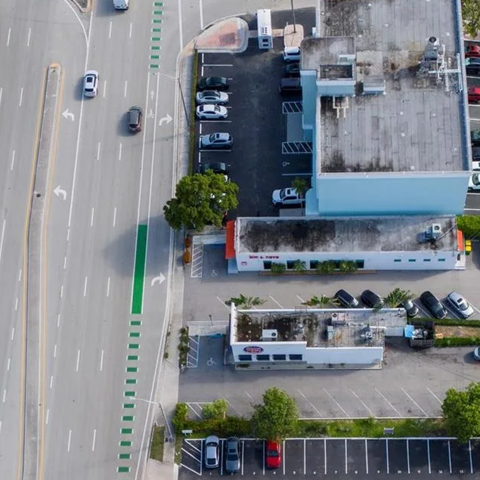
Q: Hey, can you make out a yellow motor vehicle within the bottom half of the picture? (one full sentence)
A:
No, no yellow motor vehicle appears within the bottom half of the picture.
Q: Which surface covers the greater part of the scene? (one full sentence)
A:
What you mostly see from above here is paved ground.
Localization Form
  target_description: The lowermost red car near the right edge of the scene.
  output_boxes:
[466,87,480,100]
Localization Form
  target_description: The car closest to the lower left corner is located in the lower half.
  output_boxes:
[203,435,220,469]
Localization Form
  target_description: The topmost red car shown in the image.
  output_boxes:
[462,44,480,58]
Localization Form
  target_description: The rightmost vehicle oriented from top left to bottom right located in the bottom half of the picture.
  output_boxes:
[446,290,476,318]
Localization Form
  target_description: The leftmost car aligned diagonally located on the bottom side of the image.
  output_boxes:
[331,284,362,310]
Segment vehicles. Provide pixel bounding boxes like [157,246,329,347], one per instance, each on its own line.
[225,437,240,472]
[84,71,98,96]
[201,132,232,148]
[257,8,273,50]
[273,188,310,206]
[463,58,480,73]
[278,77,303,93]
[196,104,227,118]
[357,285,388,310]
[398,298,424,318]
[473,348,480,362]
[469,174,480,190]
[197,91,227,104]
[203,435,220,469]
[471,148,480,161]
[331,284,362,310]
[284,63,301,77]
[113,0,129,12]
[128,106,142,132]
[469,129,480,145]
[199,162,229,176]
[462,44,480,58]
[471,162,480,176]
[265,436,280,469]
[199,76,228,90]
[466,87,480,100]
[283,46,301,61]
[446,290,476,318]
[419,290,449,318]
